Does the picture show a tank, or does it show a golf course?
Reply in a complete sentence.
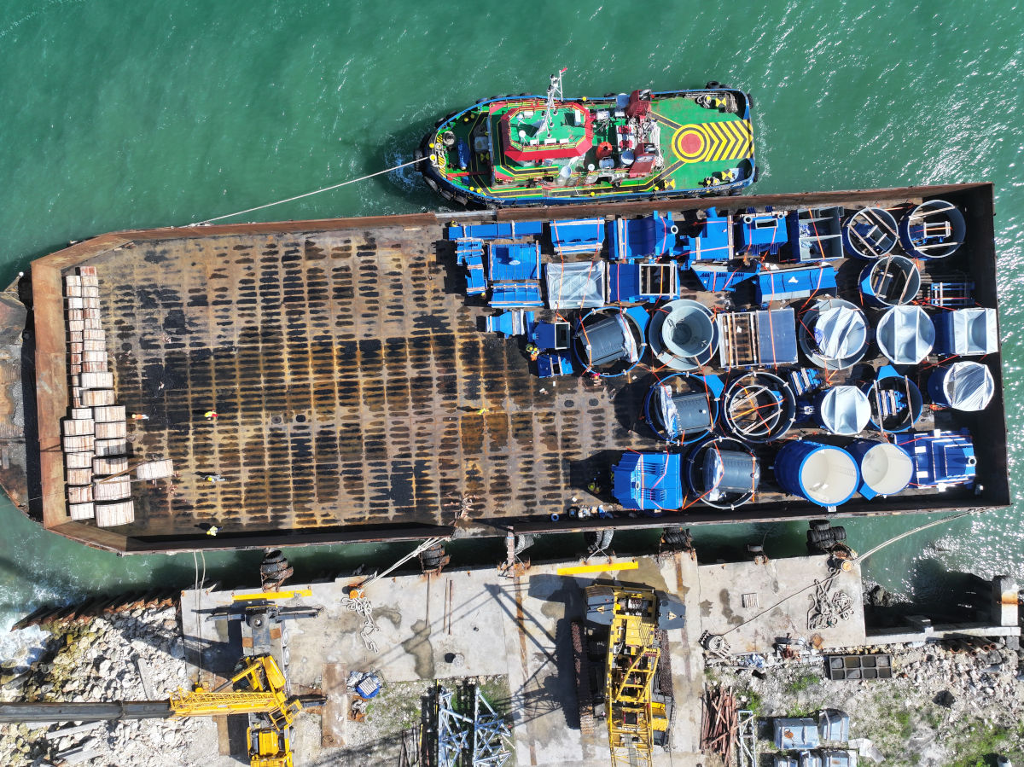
Of the two, only a tank appears.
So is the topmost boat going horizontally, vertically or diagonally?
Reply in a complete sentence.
In this picture, the topmost boat is oriented horizontally.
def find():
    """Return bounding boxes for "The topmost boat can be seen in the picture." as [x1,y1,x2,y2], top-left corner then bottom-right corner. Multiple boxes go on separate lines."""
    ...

[412,70,763,211]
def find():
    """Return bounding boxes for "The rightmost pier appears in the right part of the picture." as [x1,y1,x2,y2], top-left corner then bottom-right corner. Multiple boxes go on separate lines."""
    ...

[982,569,1024,650]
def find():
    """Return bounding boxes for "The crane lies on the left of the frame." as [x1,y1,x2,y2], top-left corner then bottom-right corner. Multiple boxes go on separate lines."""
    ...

[0,602,333,767]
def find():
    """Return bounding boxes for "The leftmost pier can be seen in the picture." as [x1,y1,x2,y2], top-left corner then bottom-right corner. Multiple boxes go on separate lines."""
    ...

[0,271,44,519]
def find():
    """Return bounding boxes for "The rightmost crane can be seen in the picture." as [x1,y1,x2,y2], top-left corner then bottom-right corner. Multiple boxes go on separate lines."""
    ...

[570,578,685,767]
